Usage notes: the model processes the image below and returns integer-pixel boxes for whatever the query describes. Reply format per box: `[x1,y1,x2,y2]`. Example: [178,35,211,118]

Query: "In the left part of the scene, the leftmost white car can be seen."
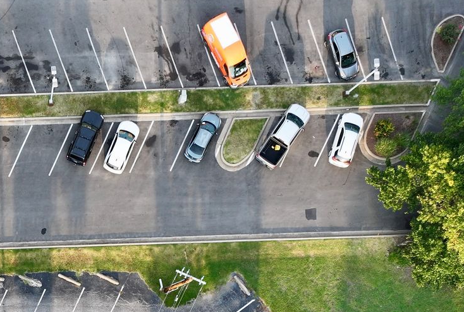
[104,121,139,173]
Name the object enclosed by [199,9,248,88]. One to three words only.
van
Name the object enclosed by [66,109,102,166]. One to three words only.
car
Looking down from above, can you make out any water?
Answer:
No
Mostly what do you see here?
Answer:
paved ground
